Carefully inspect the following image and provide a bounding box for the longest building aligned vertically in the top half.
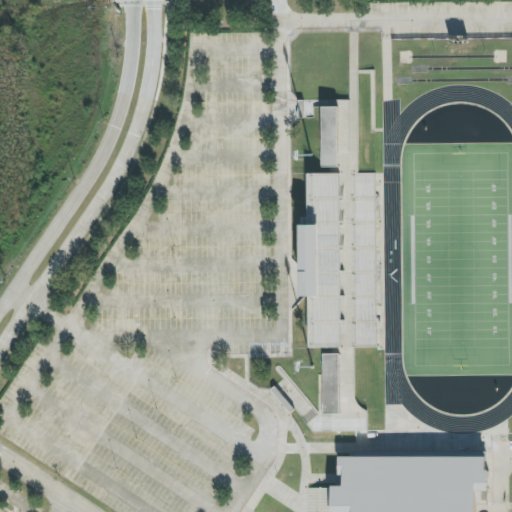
[320,106,340,167]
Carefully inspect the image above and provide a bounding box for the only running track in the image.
[384,84,512,434]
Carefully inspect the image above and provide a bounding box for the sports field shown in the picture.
[402,142,512,377]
